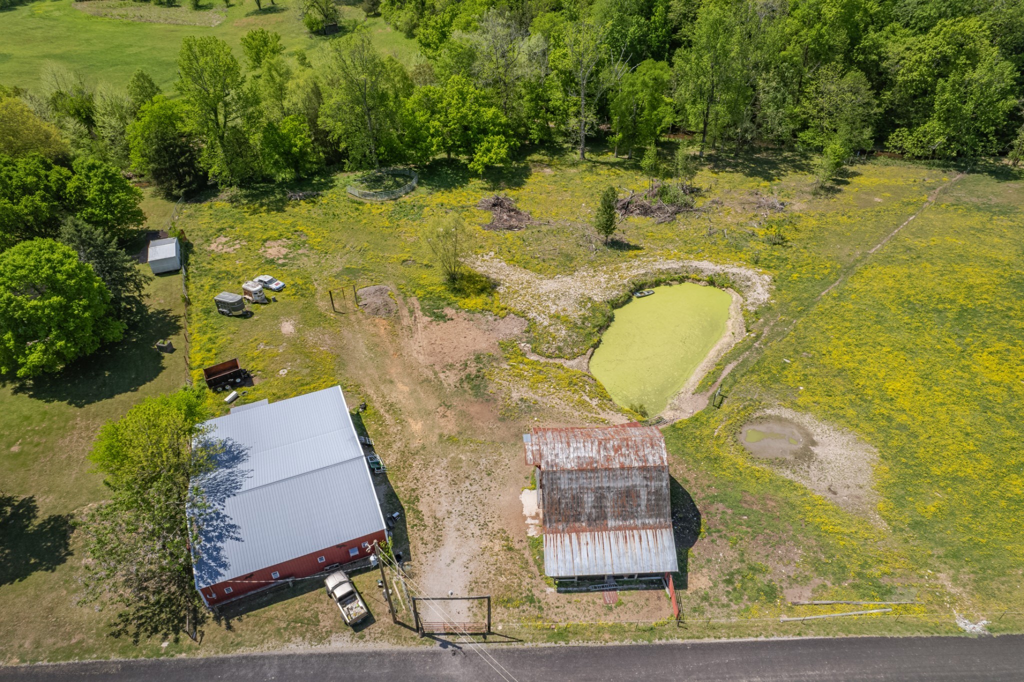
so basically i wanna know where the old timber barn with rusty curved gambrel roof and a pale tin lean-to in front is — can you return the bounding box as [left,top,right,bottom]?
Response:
[522,421,678,590]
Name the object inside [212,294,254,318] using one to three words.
trailer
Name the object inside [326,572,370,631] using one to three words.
truck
